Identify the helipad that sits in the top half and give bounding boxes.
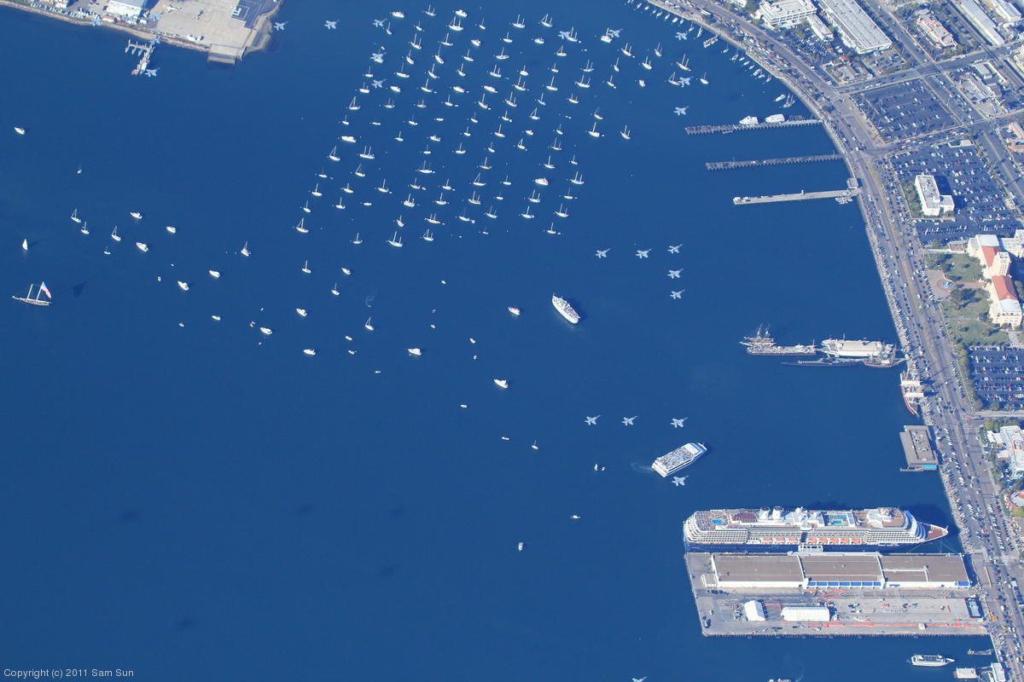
[231,3,250,20]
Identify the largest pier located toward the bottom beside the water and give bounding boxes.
[684,552,990,638]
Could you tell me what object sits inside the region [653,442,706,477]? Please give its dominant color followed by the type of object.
white boat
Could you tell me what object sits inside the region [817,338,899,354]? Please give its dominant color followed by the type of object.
white ship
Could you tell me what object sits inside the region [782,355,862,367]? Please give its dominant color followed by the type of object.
blue ship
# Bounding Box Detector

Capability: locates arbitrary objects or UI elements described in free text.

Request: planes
[666,245,684,254]
[594,249,611,258]
[323,21,339,29]
[368,80,385,88]
[673,107,690,116]
[143,68,162,76]
[670,477,690,487]
[369,53,386,60]
[667,270,684,279]
[606,29,623,36]
[370,19,388,26]
[582,416,602,427]
[620,416,640,426]
[631,677,649,682]
[674,32,691,39]
[668,290,685,299]
[271,22,289,30]
[670,418,688,428]
[634,249,653,258]
[677,77,693,85]
[557,31,573,39]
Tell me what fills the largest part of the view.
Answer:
water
